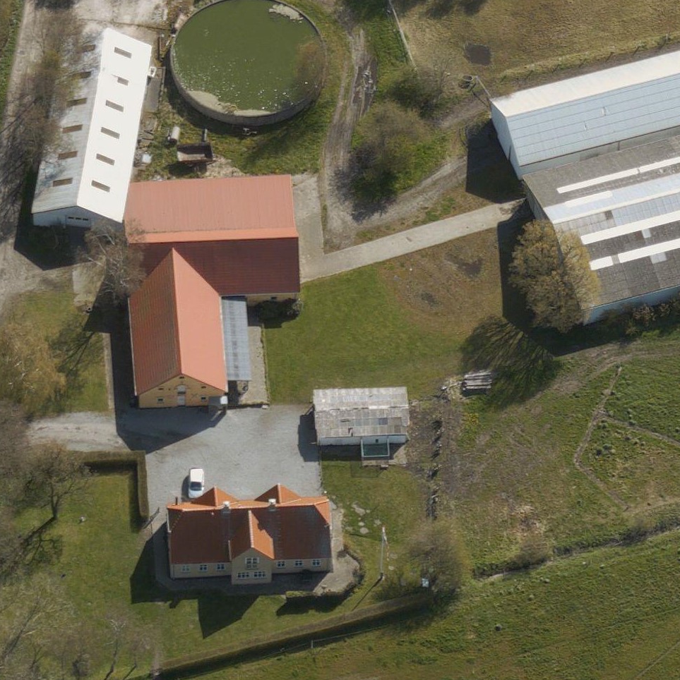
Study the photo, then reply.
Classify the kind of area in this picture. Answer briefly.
industrial area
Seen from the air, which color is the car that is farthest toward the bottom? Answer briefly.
white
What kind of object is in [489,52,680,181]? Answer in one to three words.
building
